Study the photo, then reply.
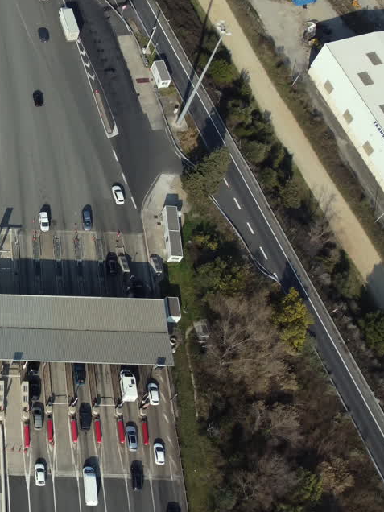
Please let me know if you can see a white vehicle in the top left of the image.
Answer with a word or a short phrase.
Yes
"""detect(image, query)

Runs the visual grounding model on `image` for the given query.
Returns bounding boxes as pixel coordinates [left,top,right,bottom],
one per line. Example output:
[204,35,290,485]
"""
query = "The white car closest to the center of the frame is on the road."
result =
[112,186,125,204]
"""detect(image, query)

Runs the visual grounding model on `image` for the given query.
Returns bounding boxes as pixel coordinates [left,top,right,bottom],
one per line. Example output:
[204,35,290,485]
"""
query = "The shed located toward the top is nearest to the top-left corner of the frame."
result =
[151,57,174,89]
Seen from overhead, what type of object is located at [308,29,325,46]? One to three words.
work vehicle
